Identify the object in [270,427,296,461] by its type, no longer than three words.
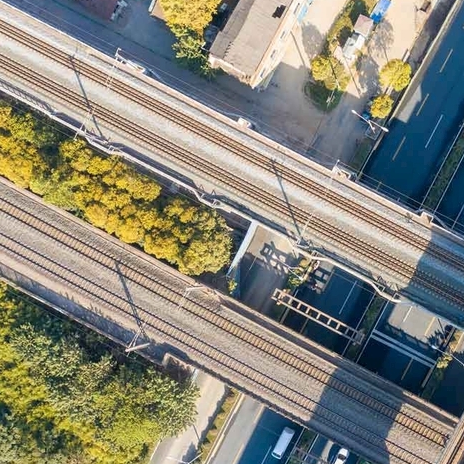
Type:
vehicle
